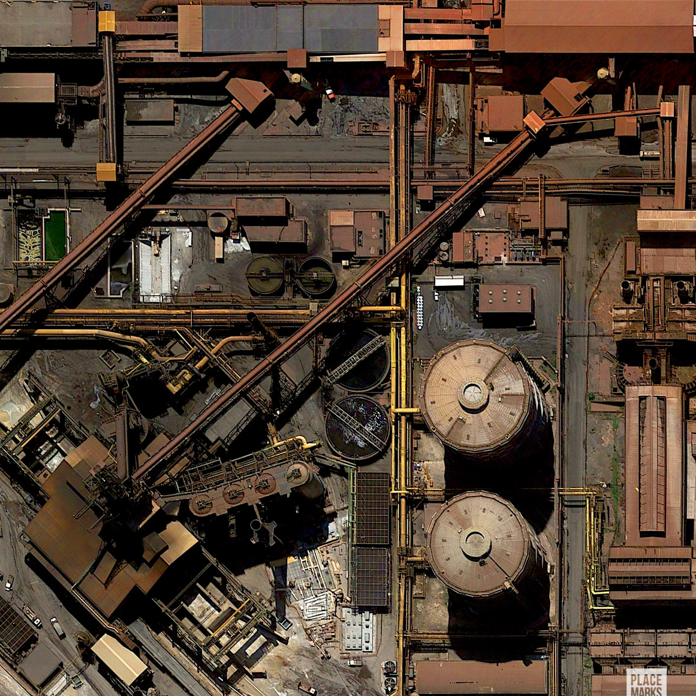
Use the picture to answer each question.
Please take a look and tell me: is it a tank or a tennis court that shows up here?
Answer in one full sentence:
The image shows a tank.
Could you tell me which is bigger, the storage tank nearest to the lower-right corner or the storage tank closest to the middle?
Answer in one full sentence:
Compared with the storage tank closest to the middle, the storage tank nearest to the lower-right corner is the bigger one.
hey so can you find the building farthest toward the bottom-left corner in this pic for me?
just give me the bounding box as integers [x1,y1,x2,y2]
[18,641,65,686]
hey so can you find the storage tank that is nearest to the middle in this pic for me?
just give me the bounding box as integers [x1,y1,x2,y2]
[325,327,391,394]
